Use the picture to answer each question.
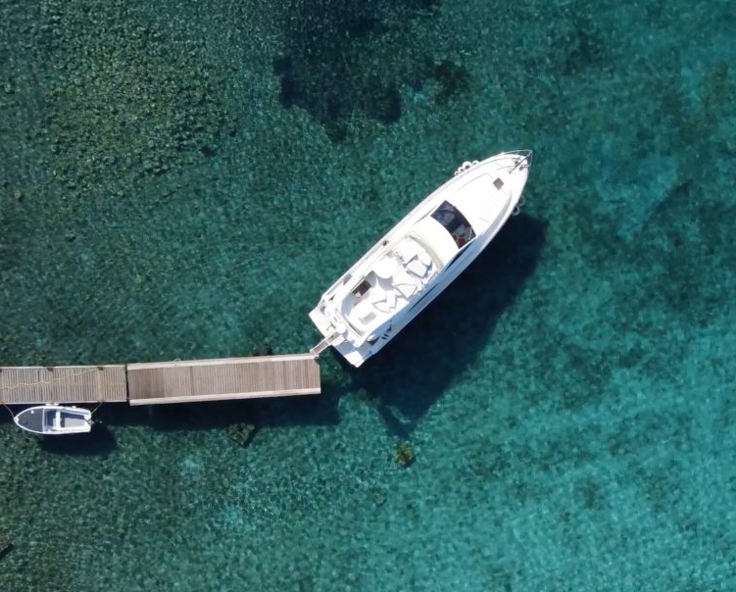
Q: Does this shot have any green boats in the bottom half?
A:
No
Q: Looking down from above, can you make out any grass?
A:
No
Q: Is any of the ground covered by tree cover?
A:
No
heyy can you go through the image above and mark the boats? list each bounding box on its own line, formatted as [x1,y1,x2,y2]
[13,405,99,434]
[310,151,529,365]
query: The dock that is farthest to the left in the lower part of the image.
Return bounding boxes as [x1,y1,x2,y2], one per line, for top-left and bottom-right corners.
[0,366,127,405]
